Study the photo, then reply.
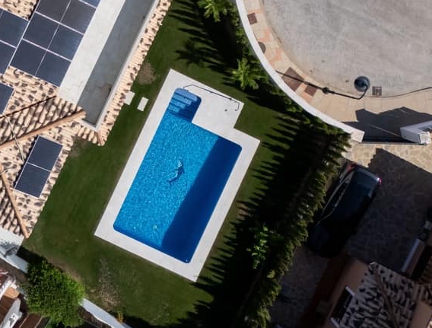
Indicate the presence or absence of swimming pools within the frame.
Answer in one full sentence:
Yes, you can see a swimming pool in this photo.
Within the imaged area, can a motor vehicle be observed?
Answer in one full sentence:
Yes, there's a motor vehicle down there.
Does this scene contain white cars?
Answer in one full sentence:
No, this view has no white car in it.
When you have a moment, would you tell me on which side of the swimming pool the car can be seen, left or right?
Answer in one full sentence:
Compared with the swimming pool, the car is located further to the right.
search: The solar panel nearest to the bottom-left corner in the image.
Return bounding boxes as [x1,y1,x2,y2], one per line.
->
[14,137,62,197]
